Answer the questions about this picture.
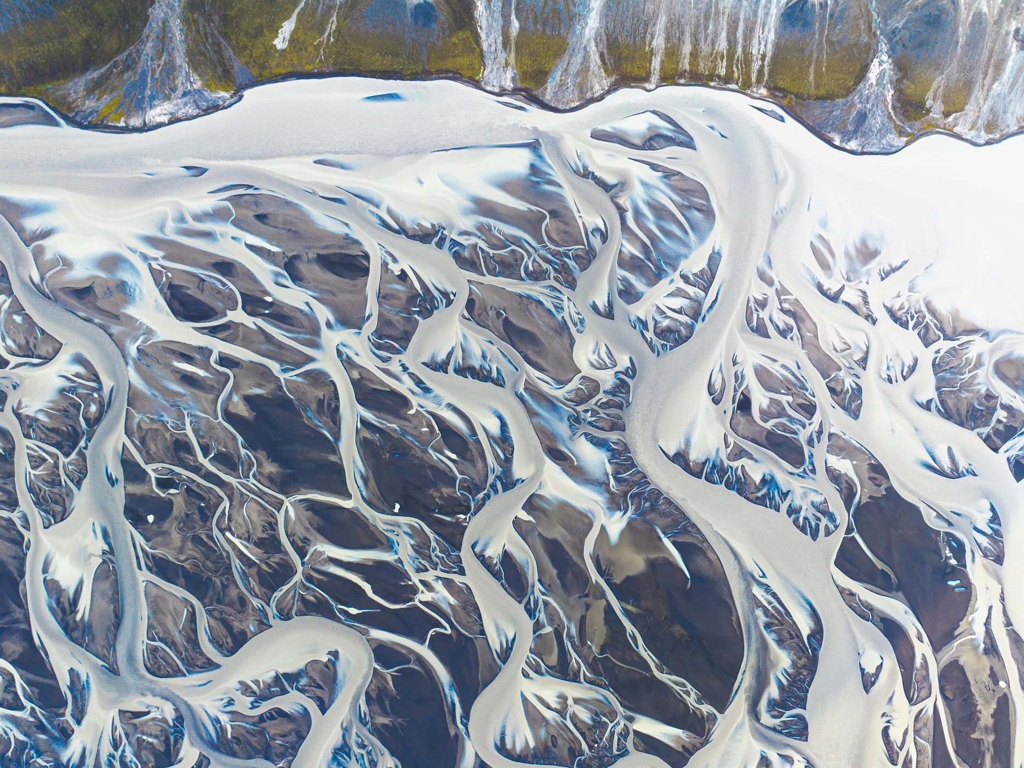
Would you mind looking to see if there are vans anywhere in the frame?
No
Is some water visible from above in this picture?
Yes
